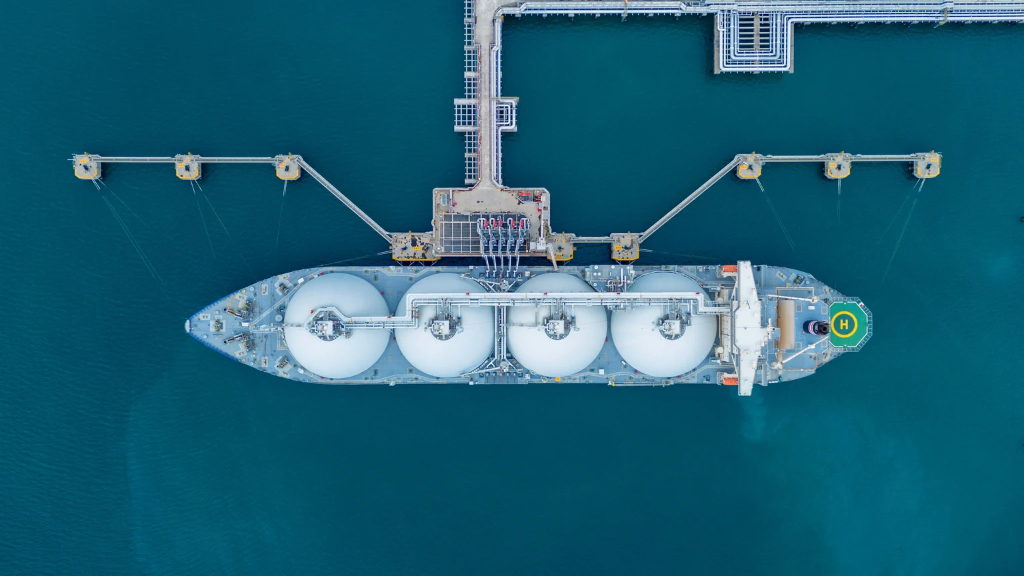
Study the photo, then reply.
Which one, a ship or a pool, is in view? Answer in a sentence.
I can see a ship in this picture.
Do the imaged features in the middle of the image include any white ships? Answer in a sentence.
Yes, I can see a white ship in the middle of the image.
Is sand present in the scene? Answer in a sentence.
No, there is no sand in the image.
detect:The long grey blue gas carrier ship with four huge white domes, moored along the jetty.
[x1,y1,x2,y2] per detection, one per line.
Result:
[185,261,873,396]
